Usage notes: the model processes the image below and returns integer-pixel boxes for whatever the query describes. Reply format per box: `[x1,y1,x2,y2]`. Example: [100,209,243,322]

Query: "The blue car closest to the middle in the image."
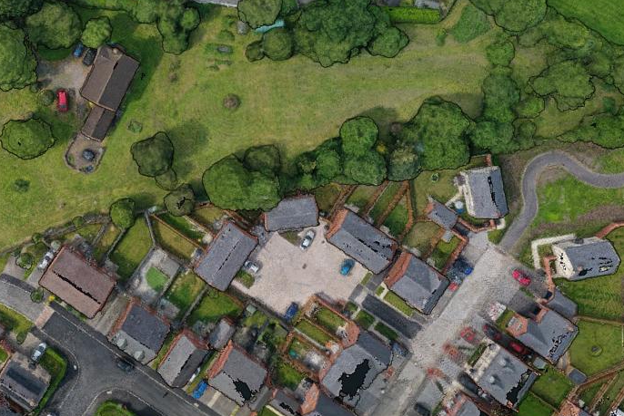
[339,256,354,279]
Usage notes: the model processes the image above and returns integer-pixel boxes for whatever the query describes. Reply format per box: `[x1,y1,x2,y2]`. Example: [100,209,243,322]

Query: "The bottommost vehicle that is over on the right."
[412,402,433,416]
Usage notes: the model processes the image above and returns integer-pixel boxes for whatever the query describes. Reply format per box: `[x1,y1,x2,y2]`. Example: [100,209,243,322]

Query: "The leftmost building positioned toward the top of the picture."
[81,44,141,140]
